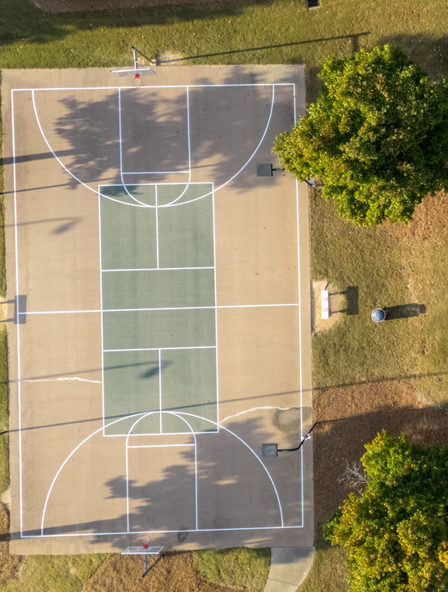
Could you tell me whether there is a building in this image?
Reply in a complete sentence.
No, I can see no building in this picture.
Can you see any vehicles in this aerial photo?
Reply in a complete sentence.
No, I can't see a single vehicle in this photo.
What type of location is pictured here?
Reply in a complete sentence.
The area seen from above is a sports ground.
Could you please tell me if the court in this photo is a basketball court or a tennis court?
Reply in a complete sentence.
What you see as the court is a basketball court.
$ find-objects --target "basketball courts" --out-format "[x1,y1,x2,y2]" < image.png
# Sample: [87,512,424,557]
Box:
[1,65,314,554]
